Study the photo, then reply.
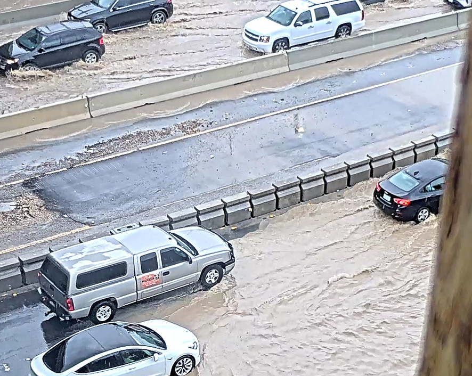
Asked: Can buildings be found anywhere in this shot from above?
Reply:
No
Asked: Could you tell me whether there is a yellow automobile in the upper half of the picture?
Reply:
No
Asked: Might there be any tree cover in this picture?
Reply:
No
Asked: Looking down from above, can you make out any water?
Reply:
Yes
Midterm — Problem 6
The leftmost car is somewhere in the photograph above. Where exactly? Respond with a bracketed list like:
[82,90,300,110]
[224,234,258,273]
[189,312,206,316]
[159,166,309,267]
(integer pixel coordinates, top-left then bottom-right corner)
[0,19,109,73]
